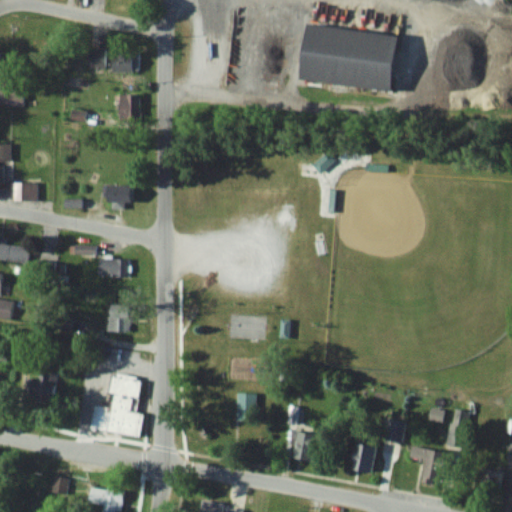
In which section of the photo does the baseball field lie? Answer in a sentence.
You can find the baseball field in the right area of the picture.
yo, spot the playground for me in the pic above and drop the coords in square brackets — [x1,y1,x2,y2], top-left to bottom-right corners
[230,358,258,381]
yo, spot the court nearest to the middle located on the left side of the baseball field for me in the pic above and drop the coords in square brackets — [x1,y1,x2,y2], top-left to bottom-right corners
[230,316,267,340]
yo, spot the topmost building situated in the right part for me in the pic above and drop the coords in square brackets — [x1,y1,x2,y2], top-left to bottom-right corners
[300,26,401,90]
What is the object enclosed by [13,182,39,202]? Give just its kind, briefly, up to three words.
shed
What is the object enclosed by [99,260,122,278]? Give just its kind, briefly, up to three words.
house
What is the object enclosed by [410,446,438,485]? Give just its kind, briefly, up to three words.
house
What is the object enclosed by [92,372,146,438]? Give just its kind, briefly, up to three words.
building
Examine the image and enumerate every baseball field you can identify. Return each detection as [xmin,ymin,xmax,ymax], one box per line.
[326,167,512,372]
